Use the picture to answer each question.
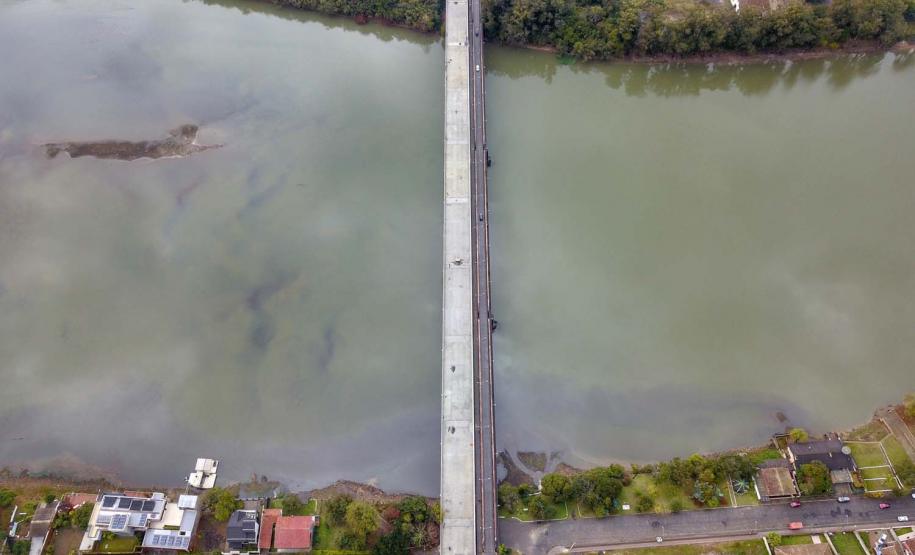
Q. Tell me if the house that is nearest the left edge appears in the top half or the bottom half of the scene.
bottom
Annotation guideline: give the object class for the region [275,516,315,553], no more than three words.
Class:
house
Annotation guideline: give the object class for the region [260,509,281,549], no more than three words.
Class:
house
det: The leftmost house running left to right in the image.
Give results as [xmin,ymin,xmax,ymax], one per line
[79,492,203,551]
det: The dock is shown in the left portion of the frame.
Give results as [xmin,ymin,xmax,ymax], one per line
[184,458,221,495]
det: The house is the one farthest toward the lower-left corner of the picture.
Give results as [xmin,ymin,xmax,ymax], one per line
[29,502,62,537]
